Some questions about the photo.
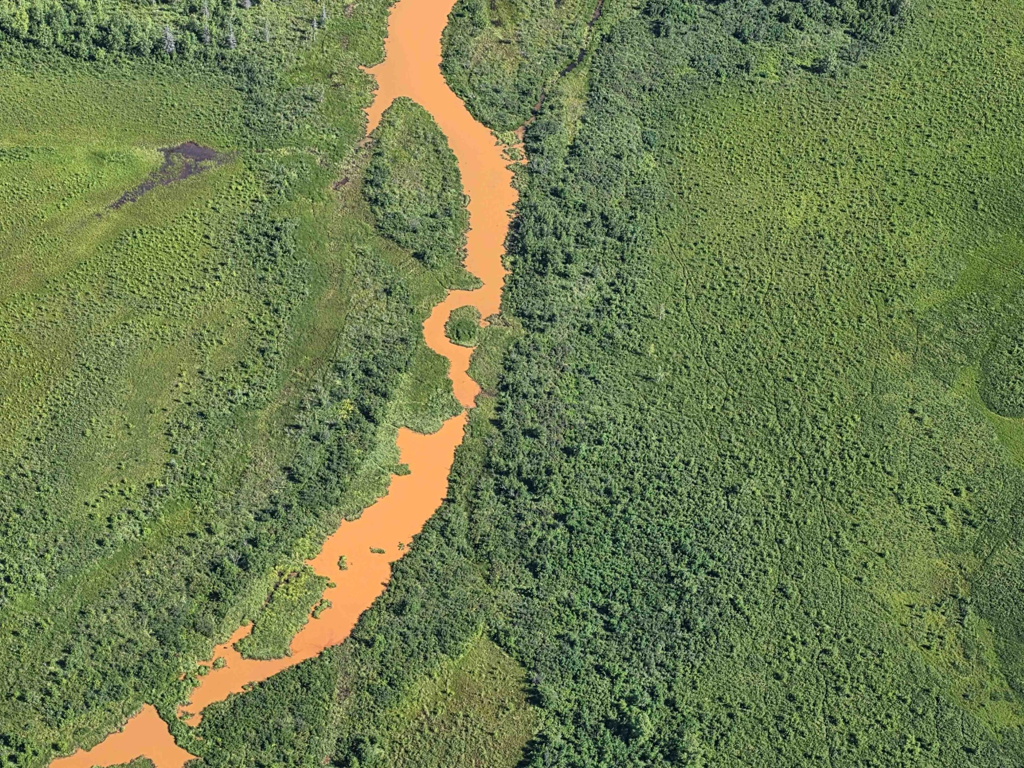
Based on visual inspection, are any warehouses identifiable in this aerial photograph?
No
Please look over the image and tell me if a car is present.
No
